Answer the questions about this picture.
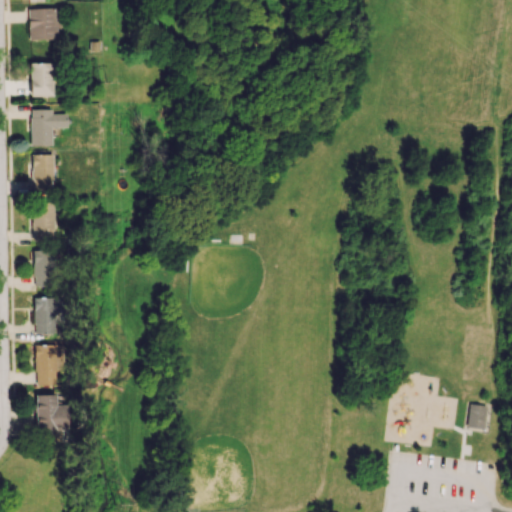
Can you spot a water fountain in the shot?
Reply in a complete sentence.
No, there appears to be no water fountain in this shot.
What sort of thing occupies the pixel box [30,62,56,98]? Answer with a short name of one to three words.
house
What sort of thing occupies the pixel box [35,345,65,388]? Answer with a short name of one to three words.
house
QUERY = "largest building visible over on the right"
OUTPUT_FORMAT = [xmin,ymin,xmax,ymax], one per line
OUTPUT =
[467,402,487,430]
